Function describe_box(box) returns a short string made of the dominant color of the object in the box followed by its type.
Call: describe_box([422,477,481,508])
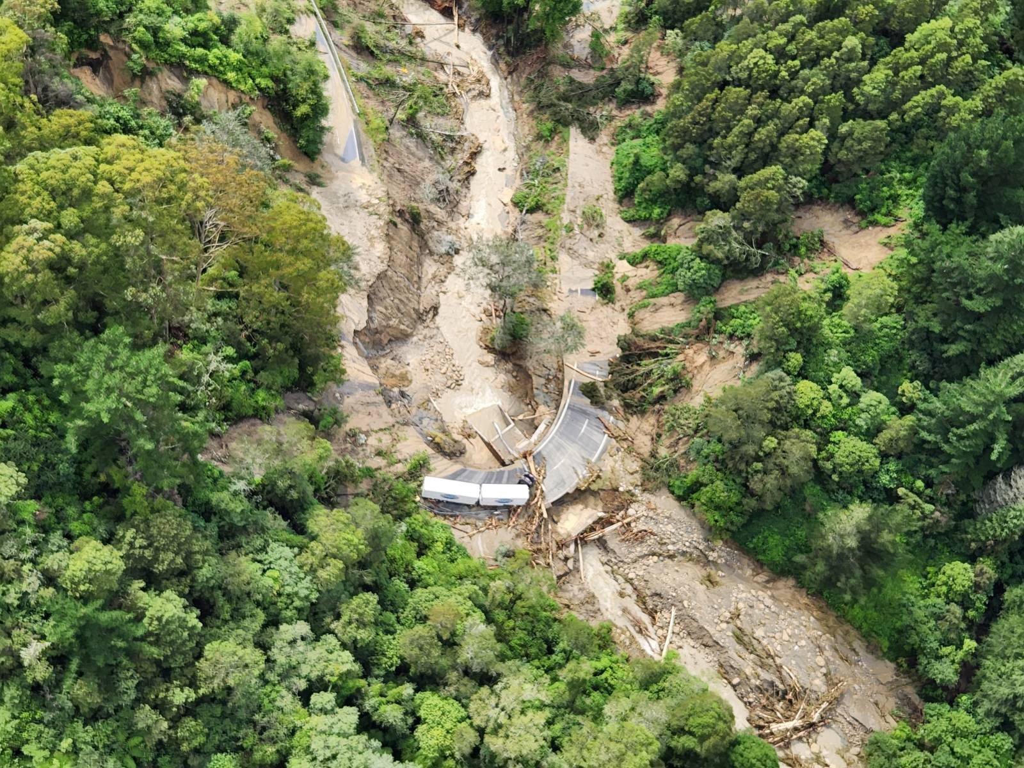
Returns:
white trailer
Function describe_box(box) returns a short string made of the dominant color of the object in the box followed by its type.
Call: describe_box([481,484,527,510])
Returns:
white trailer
